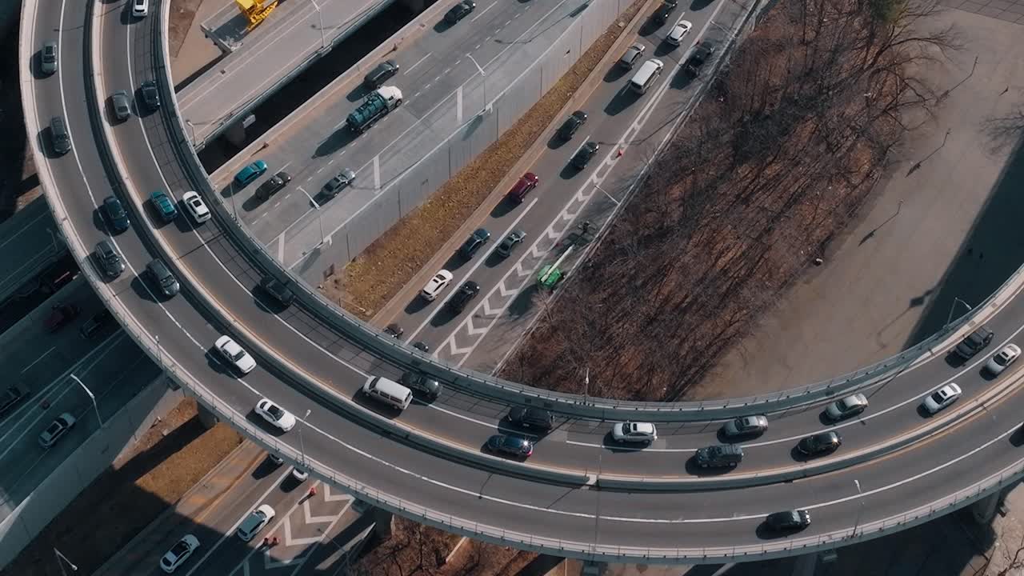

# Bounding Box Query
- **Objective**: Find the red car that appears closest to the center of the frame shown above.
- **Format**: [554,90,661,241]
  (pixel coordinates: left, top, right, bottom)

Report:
[506,171,540,204]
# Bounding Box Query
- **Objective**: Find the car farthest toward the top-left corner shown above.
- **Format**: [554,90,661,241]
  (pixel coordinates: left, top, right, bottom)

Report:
[39,41,59,76]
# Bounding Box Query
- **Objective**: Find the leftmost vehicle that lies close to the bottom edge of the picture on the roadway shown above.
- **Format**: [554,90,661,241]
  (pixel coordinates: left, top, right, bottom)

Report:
[159,533,200,573]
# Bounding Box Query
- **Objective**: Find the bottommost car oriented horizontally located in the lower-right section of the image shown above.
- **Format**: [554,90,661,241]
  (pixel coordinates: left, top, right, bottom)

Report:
[760,509,810,535]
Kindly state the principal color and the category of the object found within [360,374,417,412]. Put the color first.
white van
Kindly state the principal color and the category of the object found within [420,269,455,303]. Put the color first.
white car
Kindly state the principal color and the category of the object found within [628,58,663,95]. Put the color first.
white van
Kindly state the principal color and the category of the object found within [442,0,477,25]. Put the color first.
black car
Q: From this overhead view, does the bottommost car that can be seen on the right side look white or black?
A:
black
